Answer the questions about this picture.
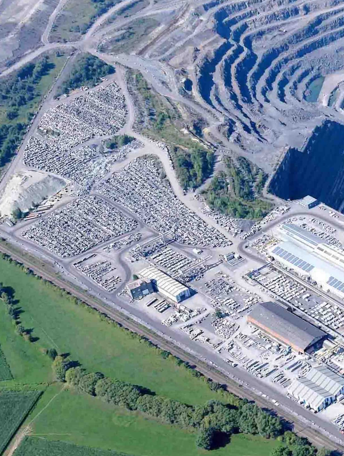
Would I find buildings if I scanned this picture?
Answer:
Yes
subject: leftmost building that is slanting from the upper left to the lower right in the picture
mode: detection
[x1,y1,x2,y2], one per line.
[140,266,190,302]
